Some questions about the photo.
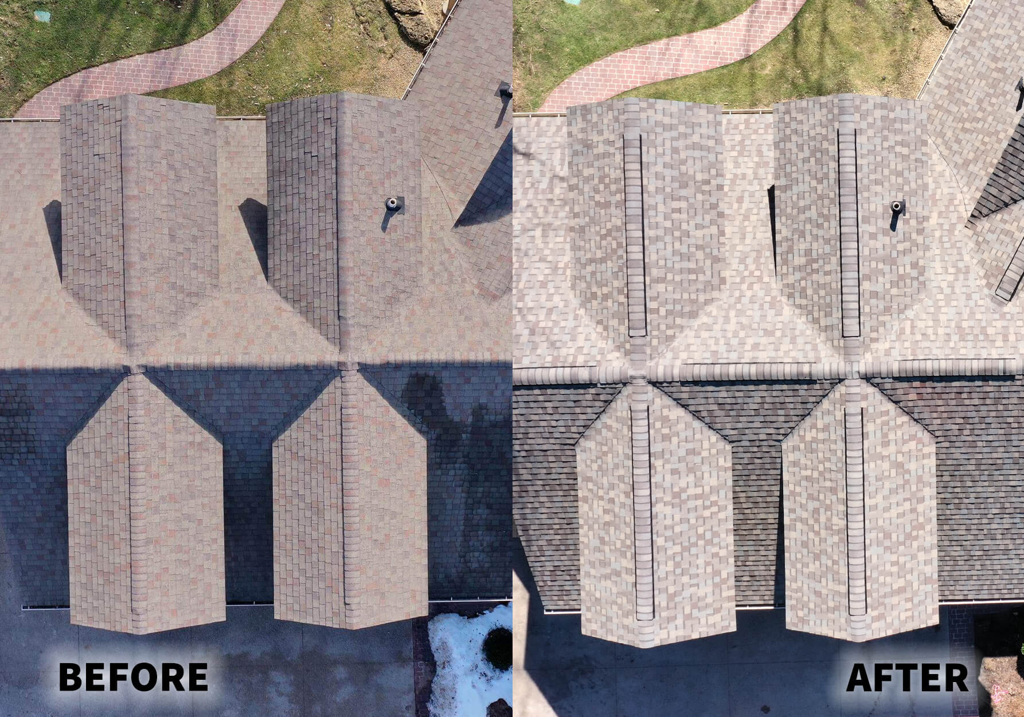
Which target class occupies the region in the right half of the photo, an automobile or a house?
house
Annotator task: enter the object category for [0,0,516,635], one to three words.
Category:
house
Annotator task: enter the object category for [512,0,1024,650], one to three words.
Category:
house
